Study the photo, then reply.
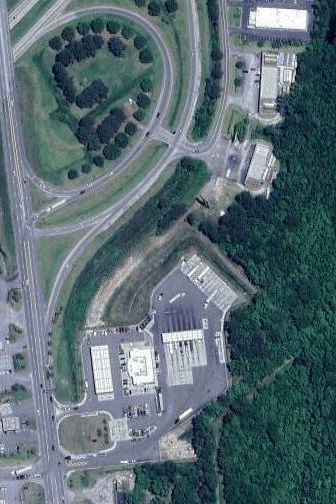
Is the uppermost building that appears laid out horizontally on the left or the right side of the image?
right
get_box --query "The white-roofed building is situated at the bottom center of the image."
[127,349,155,387]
